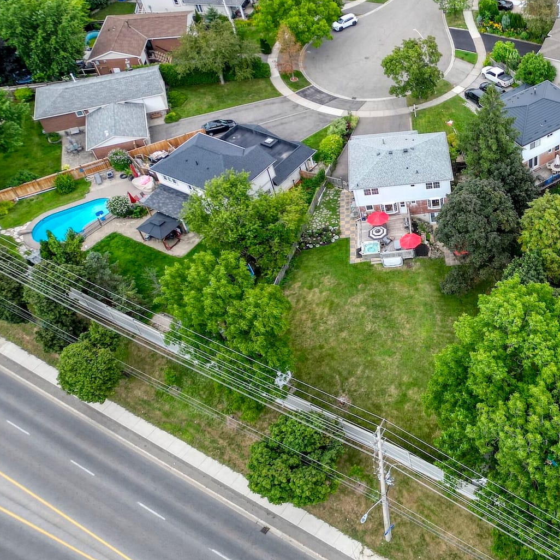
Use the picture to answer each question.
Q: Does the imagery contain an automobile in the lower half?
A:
No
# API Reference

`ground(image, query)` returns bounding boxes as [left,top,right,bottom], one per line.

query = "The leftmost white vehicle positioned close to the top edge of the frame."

[333,12,358,31]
